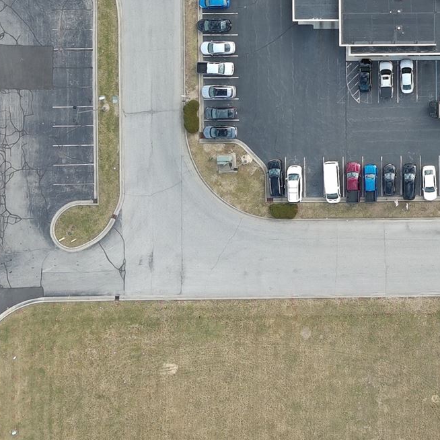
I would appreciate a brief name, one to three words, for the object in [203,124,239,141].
car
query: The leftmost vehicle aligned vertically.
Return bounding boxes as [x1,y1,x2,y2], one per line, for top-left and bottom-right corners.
[265,160,284,199]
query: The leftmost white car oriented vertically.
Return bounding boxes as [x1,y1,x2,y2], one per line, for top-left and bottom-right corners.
[285,164,303,202]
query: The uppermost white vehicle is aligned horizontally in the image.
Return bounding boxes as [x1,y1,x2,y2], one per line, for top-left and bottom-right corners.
[201,40,237,57]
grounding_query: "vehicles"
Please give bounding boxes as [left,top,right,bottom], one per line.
[427,103,440,123]
[401,162,418,201]
[206,105,239,122]
[381,163,397,196]
[198,18,233,34]
[421,164,439,201]
[400,59,415,95]
[380,60,394,98]
[322,160,342,203]
[344,161,362,203]
[362,163,378,203]
[198,60,235,77]
[357,59,374,95]
[203,124,239,141]
[285,164,303,202]
[200,0,232,11]
[202,84,238,101]
[201,40,237,57]
[265,160,284,199]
